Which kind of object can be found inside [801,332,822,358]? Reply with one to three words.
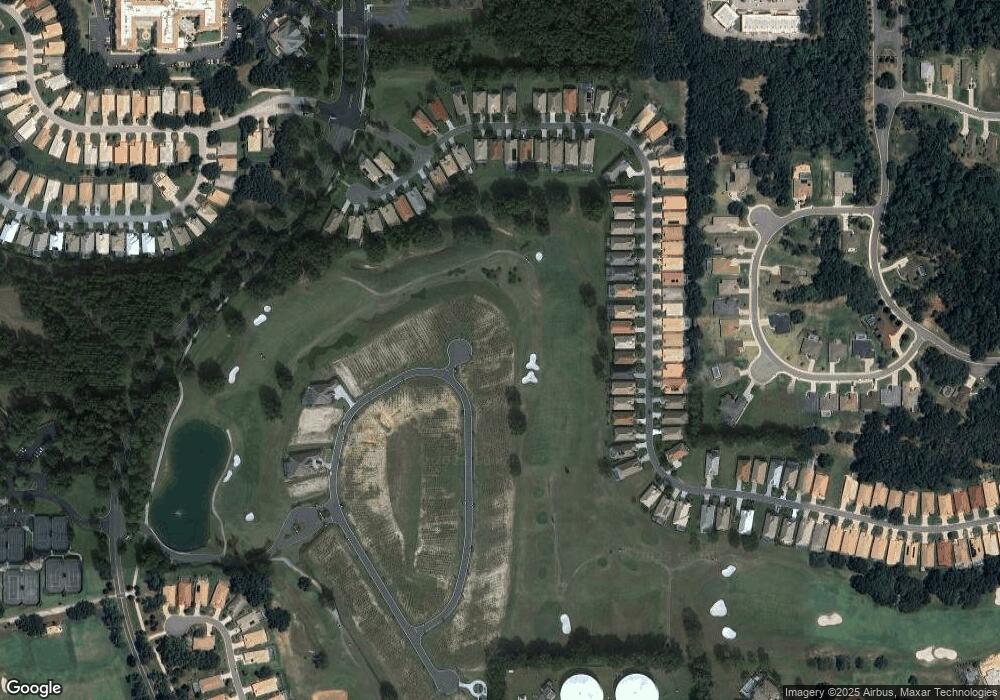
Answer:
house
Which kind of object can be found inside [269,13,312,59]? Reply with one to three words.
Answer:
building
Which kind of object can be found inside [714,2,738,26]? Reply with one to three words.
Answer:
building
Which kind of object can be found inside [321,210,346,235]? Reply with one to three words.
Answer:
house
